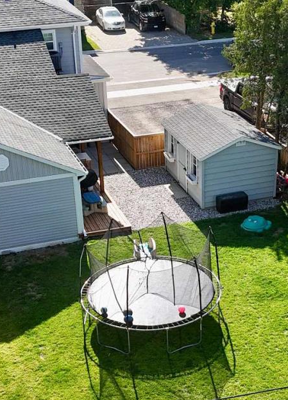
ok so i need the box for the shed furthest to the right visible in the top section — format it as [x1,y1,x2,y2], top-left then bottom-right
[158,101,286,208]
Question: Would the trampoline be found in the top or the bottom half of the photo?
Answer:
bottom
